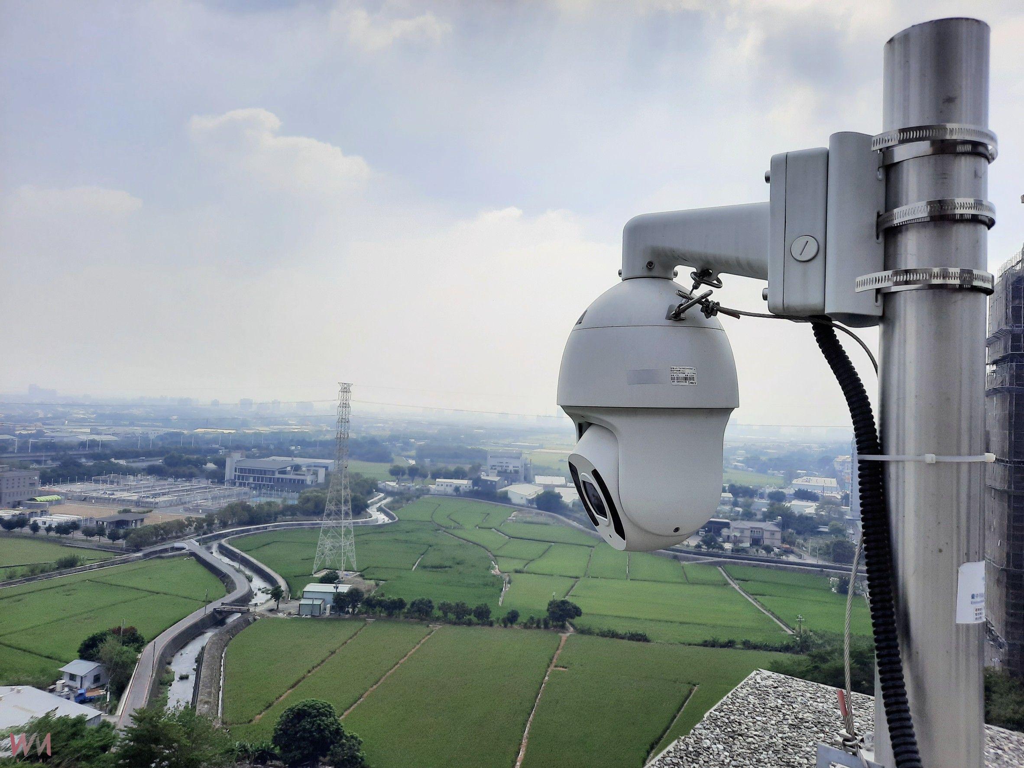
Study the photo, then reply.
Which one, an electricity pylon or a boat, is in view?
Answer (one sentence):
This aerial view contains an electricity pylon.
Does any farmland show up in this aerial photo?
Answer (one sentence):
Yes, farmland shows up in the scene.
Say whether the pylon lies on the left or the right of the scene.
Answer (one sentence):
The pylon is on the left side of the image.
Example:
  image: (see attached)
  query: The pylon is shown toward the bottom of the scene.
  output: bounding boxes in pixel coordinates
[307,382,360,575]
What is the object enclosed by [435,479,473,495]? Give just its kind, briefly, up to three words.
house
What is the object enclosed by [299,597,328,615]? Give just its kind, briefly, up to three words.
shed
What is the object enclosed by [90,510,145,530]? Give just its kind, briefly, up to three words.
building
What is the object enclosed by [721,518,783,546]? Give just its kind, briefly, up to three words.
house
